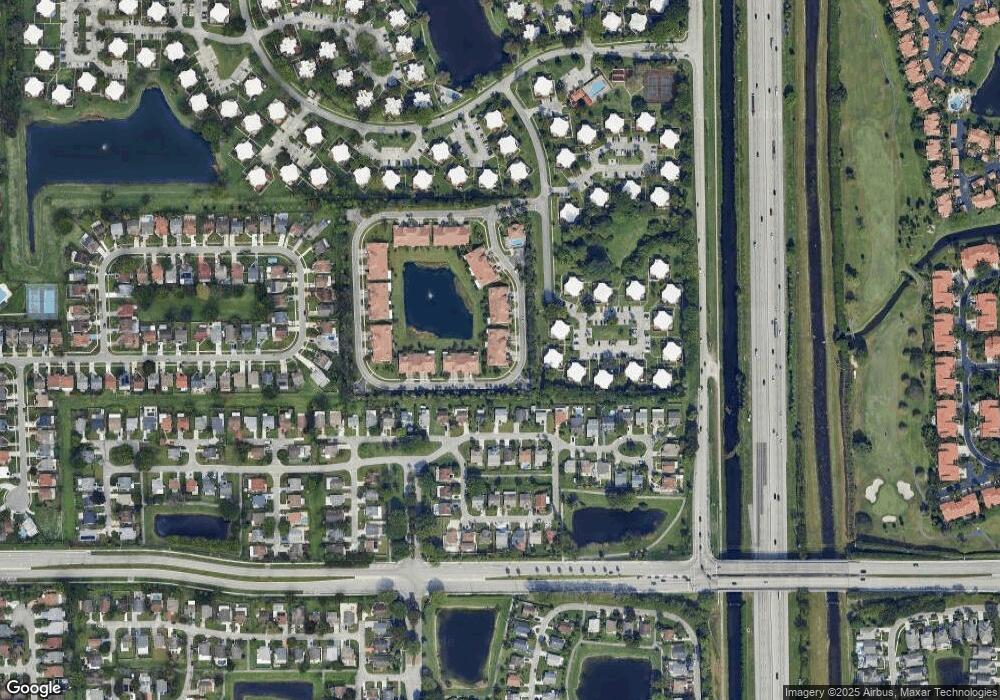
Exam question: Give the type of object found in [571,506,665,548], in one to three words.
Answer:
pond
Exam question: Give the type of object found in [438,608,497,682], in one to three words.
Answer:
pond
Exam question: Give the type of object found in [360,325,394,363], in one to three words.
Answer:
building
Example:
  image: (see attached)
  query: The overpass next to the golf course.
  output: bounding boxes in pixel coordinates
[715,558,851,592]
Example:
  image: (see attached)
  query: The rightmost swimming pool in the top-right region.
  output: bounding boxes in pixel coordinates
[947,88,971,112]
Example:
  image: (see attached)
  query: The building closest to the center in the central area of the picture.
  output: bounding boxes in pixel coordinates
[486,328,520,366]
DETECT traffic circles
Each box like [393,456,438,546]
[612,434,651,462]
